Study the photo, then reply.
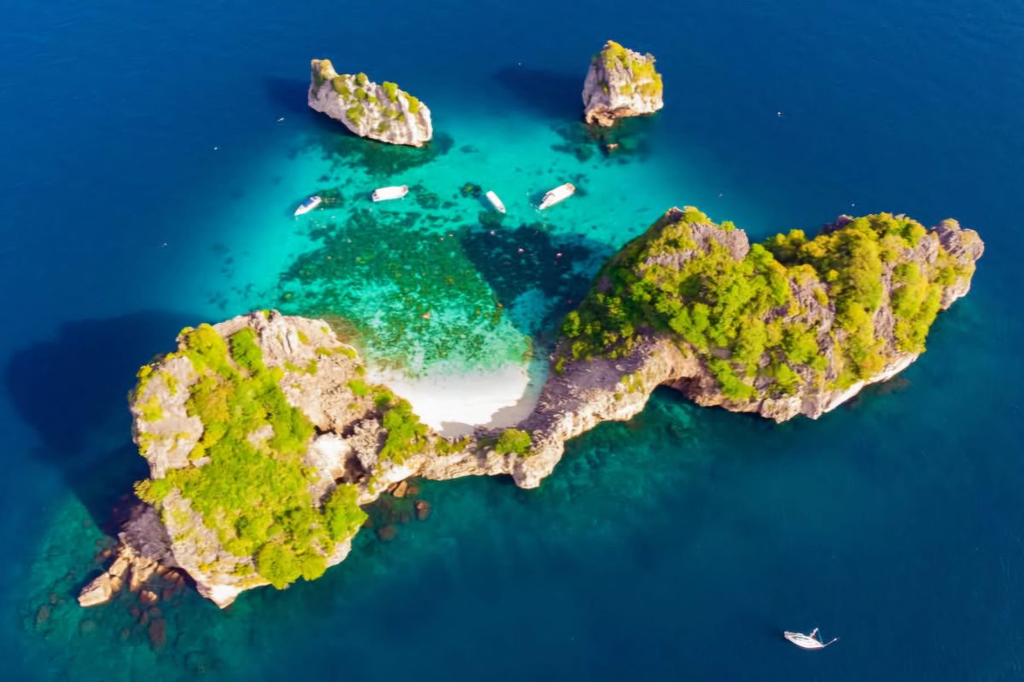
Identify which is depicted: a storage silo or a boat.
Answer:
boat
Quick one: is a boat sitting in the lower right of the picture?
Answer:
Yes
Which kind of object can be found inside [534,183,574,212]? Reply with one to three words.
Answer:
boat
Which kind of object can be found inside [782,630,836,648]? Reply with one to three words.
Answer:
boat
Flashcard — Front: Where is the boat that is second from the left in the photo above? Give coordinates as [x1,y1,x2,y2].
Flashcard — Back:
[371,184,408,202]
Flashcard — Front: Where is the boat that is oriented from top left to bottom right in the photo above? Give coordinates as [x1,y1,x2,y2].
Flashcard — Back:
[485,188,505,213]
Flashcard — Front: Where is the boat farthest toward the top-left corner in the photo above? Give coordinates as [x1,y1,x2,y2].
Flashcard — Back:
[295,196,325,215]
